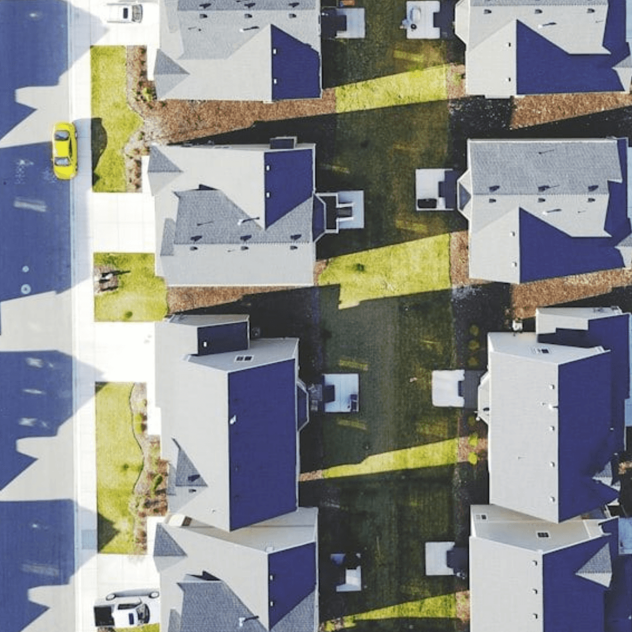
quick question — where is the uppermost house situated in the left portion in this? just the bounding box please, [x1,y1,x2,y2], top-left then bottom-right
[153,0,321,103]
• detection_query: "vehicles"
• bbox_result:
[94,0,157,29]
[48,121,77,179]
[85,594,158,632]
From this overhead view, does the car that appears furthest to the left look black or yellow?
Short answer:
yellow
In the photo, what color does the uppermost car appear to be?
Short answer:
white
